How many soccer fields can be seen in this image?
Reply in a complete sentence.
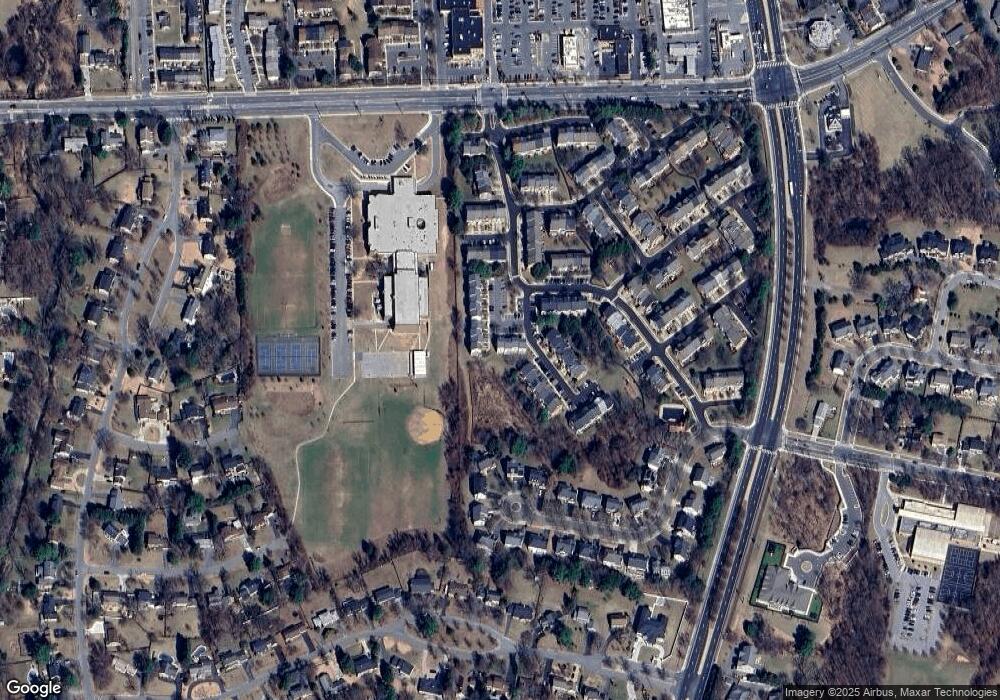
The number of soccer fields here is 2.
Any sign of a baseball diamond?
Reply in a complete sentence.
Yes, there's a baseball diamond down there.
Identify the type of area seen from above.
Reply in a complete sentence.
The picture captures a residential area.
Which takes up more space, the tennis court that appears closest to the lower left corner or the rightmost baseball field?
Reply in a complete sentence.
The baseball field is smaller than the tennis court.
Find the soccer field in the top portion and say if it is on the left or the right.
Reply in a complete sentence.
You can find the soccer field in the top portion on the left side of the picture.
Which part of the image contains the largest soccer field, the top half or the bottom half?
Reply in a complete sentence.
The largest soccer field is in the bottom half of the image.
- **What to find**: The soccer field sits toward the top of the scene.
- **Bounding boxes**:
[254,206,318,334]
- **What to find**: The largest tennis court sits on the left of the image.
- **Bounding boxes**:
[257,336,320,376]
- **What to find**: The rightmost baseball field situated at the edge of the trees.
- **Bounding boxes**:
[404,402,443,445]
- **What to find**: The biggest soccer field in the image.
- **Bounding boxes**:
[298,386,444,551]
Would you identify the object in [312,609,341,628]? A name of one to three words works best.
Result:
house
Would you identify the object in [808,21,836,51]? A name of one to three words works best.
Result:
building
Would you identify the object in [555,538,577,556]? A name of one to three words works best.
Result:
house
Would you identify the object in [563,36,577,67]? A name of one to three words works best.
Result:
building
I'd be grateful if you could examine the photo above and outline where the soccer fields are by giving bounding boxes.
[298,386,444,551]
[254,206,318,334]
